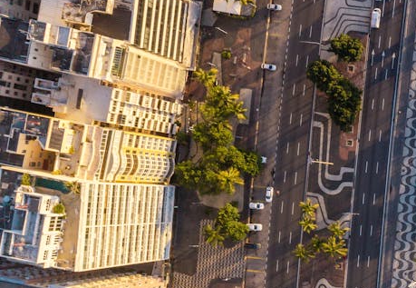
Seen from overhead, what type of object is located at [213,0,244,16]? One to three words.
tent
